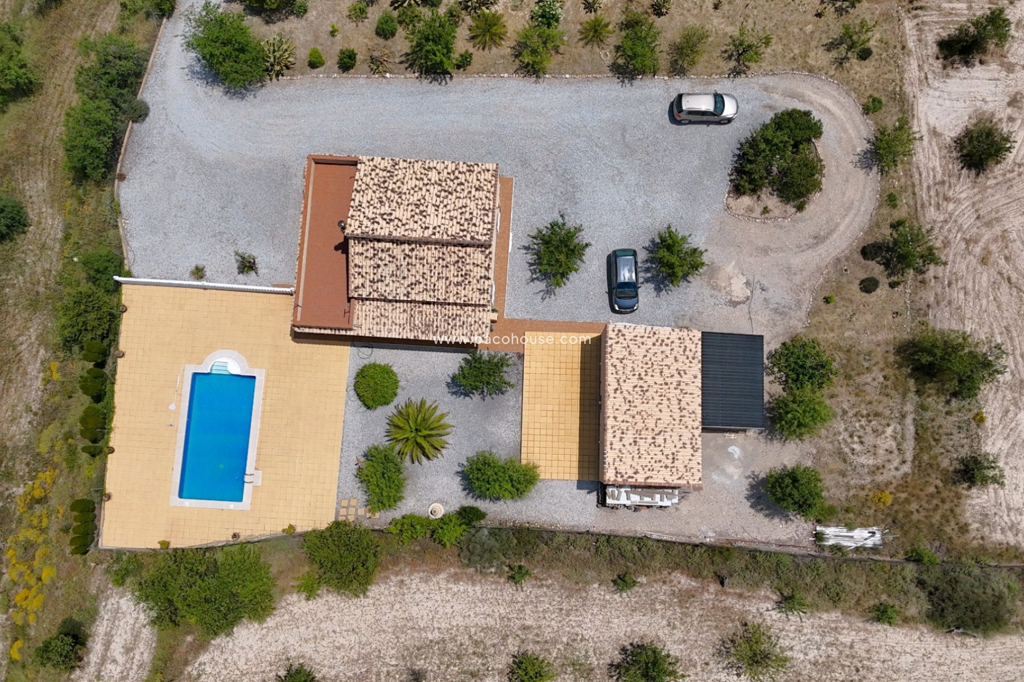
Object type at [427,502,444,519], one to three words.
fountain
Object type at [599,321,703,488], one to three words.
shed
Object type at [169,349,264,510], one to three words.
swimming pool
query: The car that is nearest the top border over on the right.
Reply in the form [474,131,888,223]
[677,93,742,128]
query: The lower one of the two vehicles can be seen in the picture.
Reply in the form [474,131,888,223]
[611,249,644,314]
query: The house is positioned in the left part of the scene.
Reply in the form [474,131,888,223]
[292,155,500,346]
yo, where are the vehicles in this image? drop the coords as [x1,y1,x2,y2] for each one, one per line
[677,93,742,128]
[611,249,644,314]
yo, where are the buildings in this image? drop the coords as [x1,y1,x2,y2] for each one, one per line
[599,321,703,488]
[292,155,500,346]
